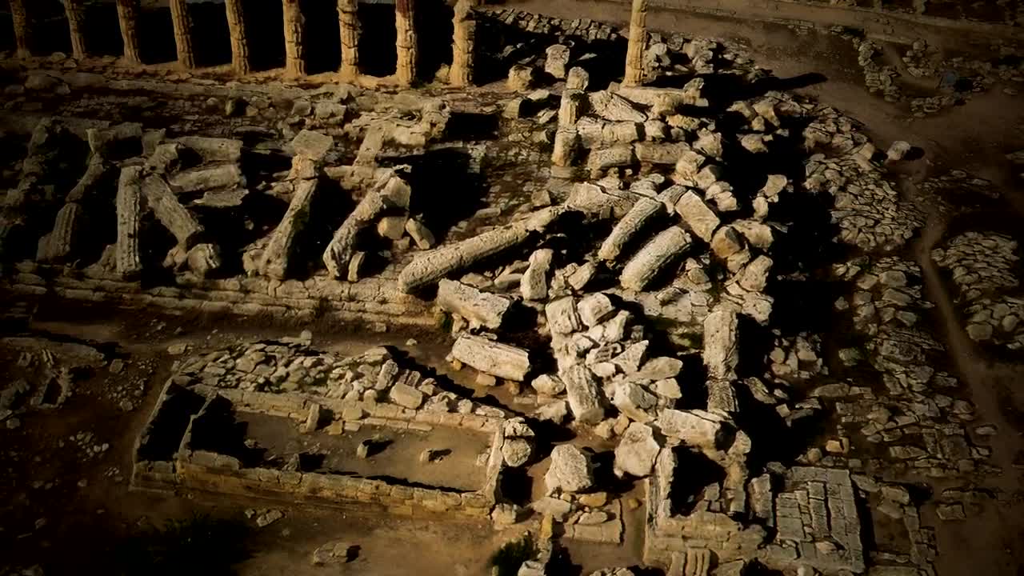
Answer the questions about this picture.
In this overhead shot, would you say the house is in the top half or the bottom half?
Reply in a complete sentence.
It is in the bottom half that the house appears.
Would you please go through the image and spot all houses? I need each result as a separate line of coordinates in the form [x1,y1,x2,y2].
[133,376,515,523]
